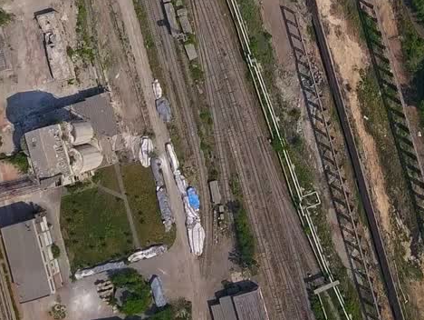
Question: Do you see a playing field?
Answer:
No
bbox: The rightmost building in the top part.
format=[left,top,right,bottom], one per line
[71,92,125,136]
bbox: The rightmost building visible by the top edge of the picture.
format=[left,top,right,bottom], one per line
[33,8,76,82]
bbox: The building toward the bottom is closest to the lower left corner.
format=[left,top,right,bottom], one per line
[1,214,66,302]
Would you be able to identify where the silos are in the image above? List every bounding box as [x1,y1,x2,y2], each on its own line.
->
[58,116,95,141]
[62,142,105,171]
